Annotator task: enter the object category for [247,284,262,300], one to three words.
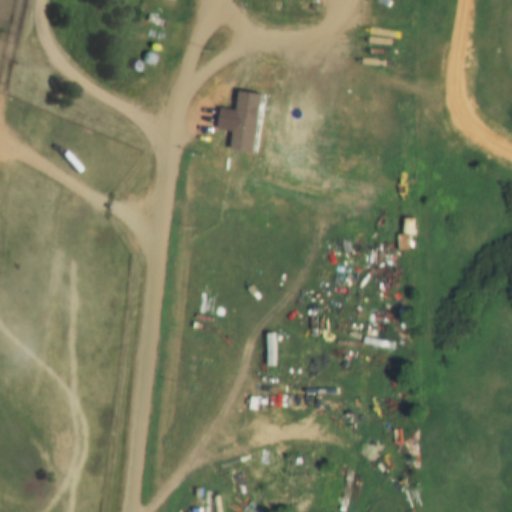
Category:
camper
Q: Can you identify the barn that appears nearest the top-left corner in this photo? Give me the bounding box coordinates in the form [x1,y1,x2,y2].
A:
[218,92,266,152]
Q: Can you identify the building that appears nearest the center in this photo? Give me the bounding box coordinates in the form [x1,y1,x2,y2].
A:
[266,332,278,366]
